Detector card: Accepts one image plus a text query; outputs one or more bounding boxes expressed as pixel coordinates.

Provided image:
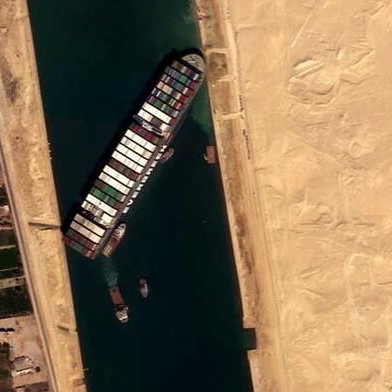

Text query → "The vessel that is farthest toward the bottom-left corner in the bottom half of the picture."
[109,283,128,323]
